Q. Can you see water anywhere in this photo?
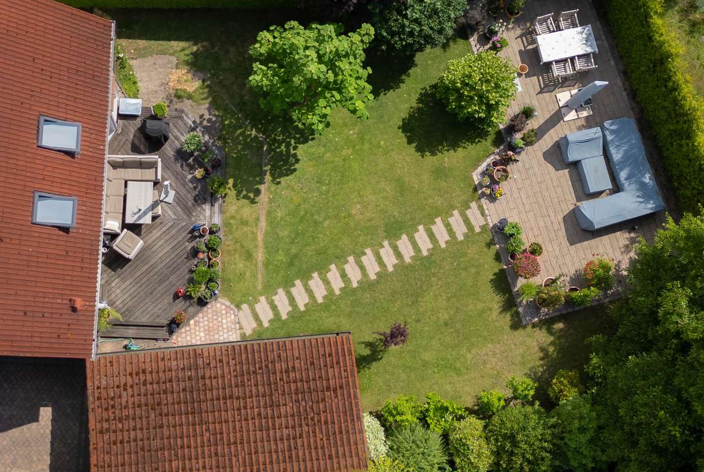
No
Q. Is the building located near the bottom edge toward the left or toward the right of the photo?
left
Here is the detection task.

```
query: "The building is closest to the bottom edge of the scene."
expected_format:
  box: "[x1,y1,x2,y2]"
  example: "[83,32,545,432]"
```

[87,330,367,472]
